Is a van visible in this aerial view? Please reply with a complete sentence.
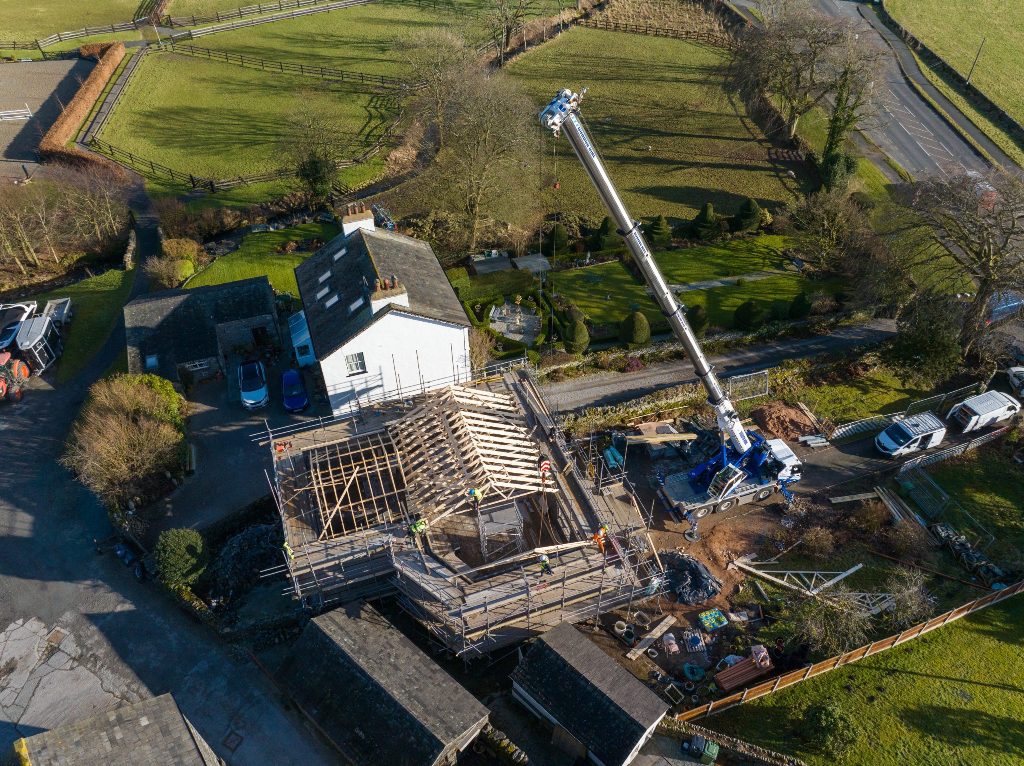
Yes, this view includes a van.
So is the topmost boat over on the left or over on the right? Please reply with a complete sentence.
You can find the topmost boat on the left side of the picture.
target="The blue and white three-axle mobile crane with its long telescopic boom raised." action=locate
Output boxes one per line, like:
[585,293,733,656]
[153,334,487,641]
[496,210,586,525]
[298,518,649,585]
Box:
[535,73,812,542]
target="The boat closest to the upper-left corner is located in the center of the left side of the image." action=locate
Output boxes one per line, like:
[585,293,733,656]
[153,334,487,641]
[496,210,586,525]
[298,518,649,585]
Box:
[0,295,30,350]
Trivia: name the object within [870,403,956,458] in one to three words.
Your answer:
van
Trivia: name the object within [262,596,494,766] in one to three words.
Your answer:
barn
